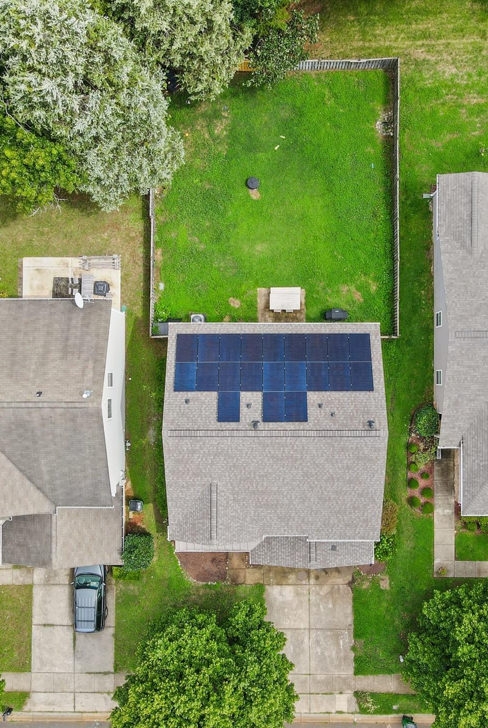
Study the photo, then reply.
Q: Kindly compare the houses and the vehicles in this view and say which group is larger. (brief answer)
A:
houses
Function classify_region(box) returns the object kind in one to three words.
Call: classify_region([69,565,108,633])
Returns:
car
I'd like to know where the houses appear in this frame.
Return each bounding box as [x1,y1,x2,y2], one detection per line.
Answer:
[0,284,128,569]
[162,321,387,569]
[433,172,488,516]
